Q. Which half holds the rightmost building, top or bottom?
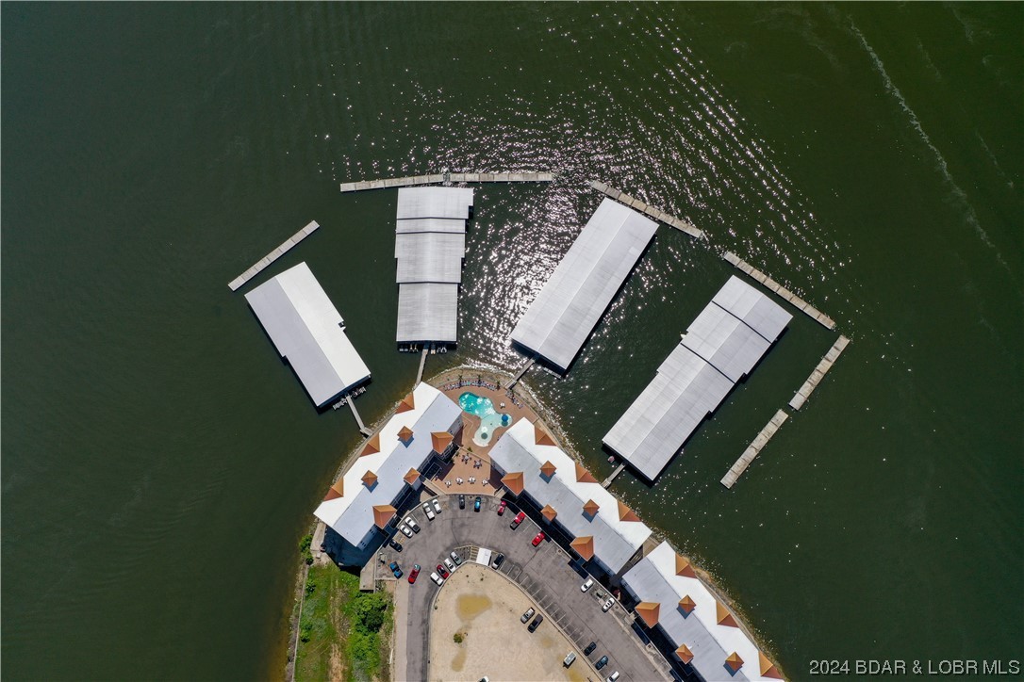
bottom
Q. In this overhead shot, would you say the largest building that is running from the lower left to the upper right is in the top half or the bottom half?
bottom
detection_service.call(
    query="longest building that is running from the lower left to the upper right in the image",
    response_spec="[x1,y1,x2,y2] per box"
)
[314,382,463,548]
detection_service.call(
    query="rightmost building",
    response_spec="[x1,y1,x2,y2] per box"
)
[620,541,784,682]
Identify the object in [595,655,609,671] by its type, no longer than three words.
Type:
car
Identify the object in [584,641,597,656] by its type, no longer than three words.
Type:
vehicle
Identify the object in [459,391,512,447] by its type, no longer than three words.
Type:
swimming pool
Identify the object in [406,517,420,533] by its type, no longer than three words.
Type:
vehicle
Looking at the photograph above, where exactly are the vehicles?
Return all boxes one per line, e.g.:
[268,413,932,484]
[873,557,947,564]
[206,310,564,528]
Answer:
[389,562,402,578]
[584,641,597,656]
[511,512,524,529]
[534,533,545,546]
[528,614,544,632]
[423,503,435,521]
[581,578,593,592]
[459,494,465,508]
[432,499,442,513]
[450,552,462,565]
[521,607,536,624]
[492,553,504,569]
[389,539,403,552]
[606,670,620,682]
[475,497,481,511]
[408,565,420,583]
[436,564,449,579]
[499,501,507,515]
[430,572,443,586]
[406,517,420,533]
[602,598,614,612]
[444,558,456,573]
[400,525,412,537]
[595,655,609,671]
